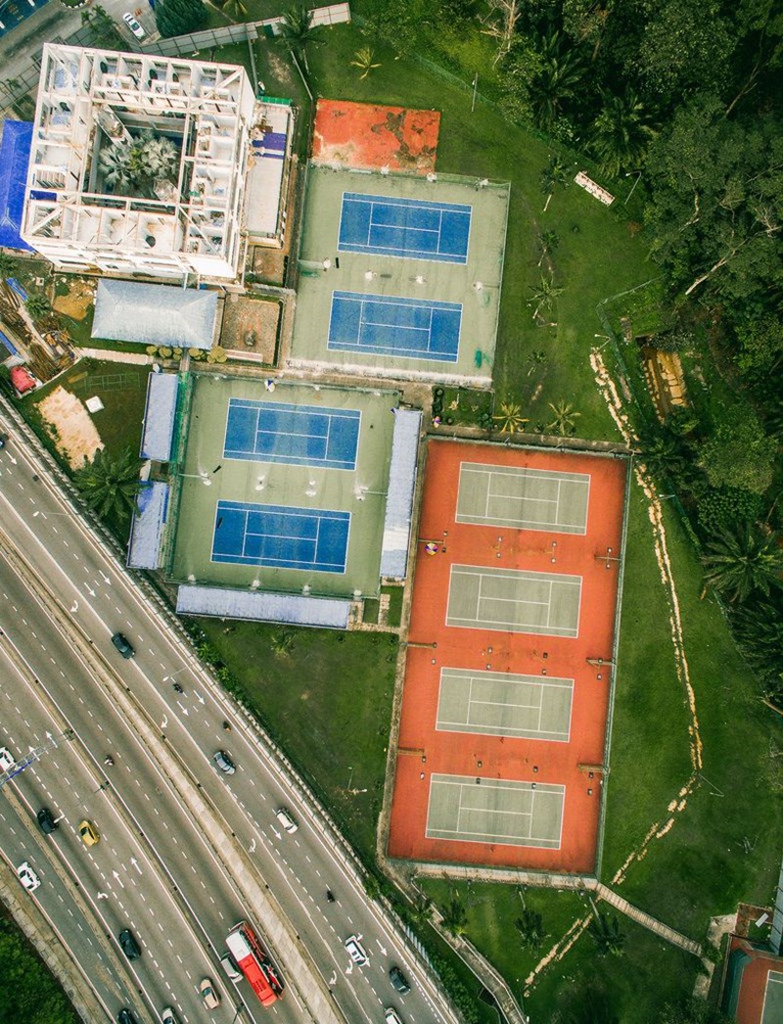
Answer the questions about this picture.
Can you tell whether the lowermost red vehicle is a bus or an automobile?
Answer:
bus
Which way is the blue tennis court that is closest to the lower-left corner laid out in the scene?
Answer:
from left to right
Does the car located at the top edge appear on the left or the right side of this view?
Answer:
left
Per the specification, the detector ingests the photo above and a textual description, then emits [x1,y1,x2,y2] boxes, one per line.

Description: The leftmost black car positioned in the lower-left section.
[35,807,55,837]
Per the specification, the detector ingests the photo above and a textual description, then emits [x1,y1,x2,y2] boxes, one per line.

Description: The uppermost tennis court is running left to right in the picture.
[337,193,473,263]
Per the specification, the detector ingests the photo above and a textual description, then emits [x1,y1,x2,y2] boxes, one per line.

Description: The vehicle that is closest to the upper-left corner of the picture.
[121,8,144,36]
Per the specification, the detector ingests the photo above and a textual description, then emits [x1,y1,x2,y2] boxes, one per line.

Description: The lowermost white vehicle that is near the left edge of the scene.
[16,863,37,892]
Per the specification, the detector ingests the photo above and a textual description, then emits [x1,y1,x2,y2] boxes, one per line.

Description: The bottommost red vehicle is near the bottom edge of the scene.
[227,934,280,1009]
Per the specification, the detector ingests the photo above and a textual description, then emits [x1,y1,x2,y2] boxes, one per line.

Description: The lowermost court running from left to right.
[425,773,566,851]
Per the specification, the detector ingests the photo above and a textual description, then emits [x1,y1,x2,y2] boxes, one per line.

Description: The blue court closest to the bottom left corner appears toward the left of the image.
[212,500,351,574]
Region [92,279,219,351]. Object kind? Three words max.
building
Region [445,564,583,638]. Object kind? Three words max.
tennis court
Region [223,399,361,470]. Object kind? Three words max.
tennis court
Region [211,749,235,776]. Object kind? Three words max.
car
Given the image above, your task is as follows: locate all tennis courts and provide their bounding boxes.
[212,500,351,574]
[223,399,361,470]
[445,564,583,638]
[337,193,473,263]
[761,971,783,1024]
[436,667,574,743]
[326,291,463,362]
[425,773,566,851]
[455,462,591,535]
